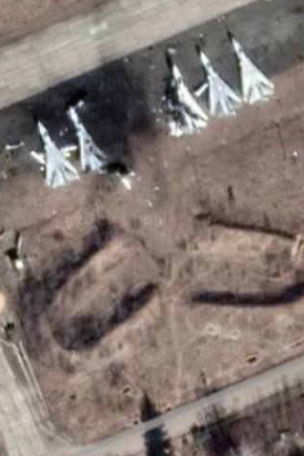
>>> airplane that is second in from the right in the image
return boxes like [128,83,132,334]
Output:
[201,53,241,116]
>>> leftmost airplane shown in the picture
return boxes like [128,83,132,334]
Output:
[39,119,77,186]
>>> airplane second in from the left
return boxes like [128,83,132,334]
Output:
[71,107,110,171]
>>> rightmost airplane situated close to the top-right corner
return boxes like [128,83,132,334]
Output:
[232,40,273,103]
